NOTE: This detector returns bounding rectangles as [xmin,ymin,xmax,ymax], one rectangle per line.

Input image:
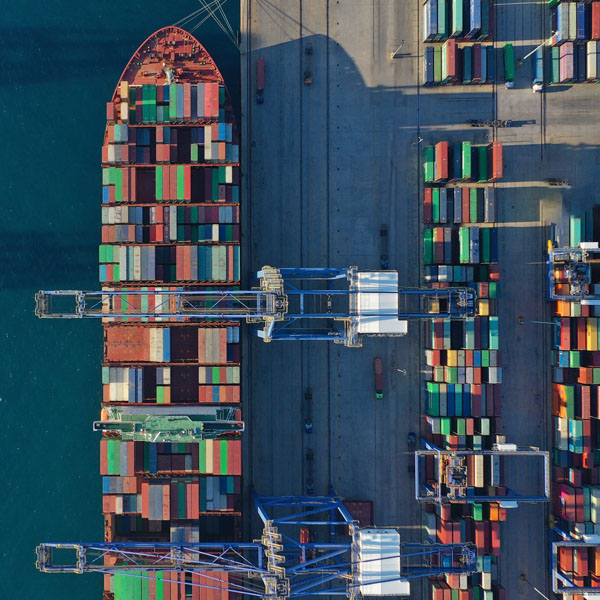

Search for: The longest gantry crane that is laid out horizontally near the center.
[34,265,475,348]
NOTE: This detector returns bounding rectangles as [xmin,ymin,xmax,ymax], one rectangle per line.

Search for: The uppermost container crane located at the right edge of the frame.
[544,243,600,308]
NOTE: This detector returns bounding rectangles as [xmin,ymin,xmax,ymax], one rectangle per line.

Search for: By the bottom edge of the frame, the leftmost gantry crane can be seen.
[36,478,478,600]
